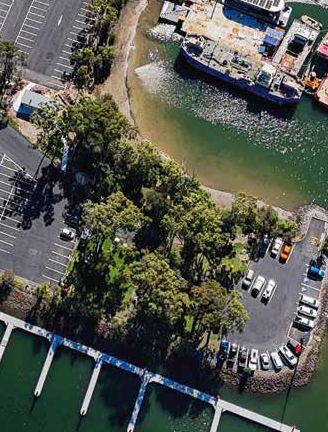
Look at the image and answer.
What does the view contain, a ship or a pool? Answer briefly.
ship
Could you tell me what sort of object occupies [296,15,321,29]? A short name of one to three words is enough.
boat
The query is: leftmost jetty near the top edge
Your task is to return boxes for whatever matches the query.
[159,1,189,25]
